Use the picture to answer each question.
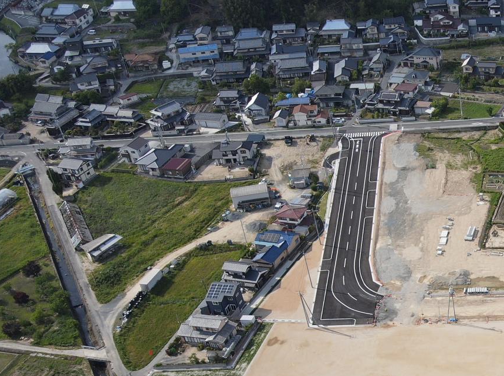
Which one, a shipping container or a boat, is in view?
shipping container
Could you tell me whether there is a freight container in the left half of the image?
Yes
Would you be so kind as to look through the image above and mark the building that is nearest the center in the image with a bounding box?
[227,184,271,211]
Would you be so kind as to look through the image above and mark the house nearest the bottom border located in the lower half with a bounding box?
[171,309,252,353]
